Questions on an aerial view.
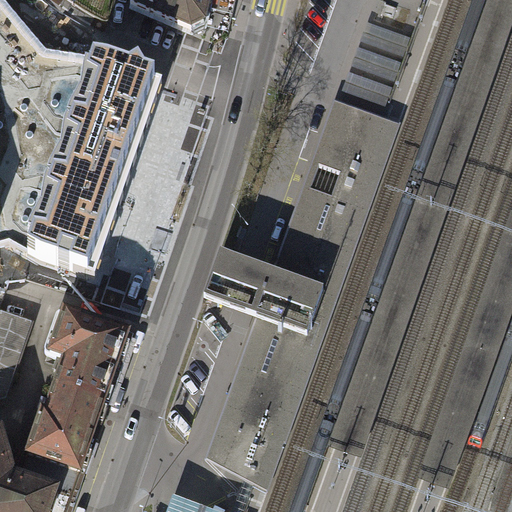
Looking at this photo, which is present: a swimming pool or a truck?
truck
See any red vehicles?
Yes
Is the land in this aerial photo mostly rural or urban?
urban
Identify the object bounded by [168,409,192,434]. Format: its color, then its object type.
white vehicle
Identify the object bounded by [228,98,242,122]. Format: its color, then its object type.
black car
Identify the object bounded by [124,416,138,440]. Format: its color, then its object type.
white car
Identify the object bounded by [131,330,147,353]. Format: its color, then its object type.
white vehicle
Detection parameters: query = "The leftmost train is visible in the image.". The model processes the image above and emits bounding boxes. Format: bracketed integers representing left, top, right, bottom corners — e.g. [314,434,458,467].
[287,0,488,512]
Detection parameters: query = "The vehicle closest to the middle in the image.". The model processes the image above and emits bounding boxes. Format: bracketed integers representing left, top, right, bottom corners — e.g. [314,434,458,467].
[270,218,284,240]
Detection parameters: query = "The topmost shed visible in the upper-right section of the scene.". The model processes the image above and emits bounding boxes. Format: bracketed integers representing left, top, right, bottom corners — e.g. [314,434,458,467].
[360,24,410,58]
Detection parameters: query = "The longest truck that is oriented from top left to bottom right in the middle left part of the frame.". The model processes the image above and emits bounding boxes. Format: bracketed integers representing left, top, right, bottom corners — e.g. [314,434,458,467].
[58,270,103,314]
